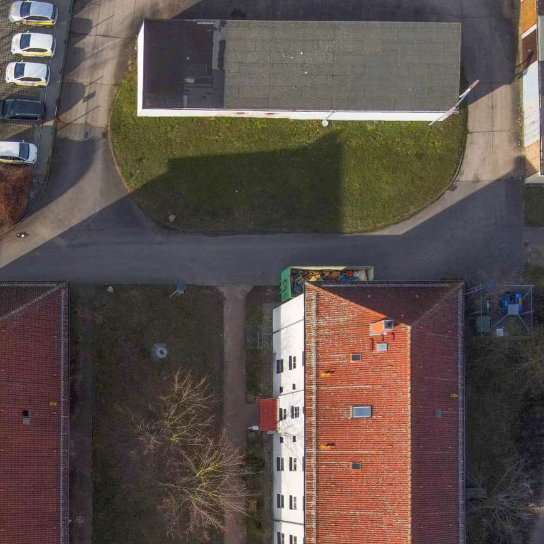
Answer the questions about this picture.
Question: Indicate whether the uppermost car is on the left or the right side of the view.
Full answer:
The uppermost car is on the left side of the image.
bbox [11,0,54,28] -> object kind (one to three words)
car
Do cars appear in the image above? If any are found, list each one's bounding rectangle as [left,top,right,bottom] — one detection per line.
[11,31,55,60]
[0,96,45,126]
[5,60,49,88]
[0,139,36,163]
[11,0,54,28]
